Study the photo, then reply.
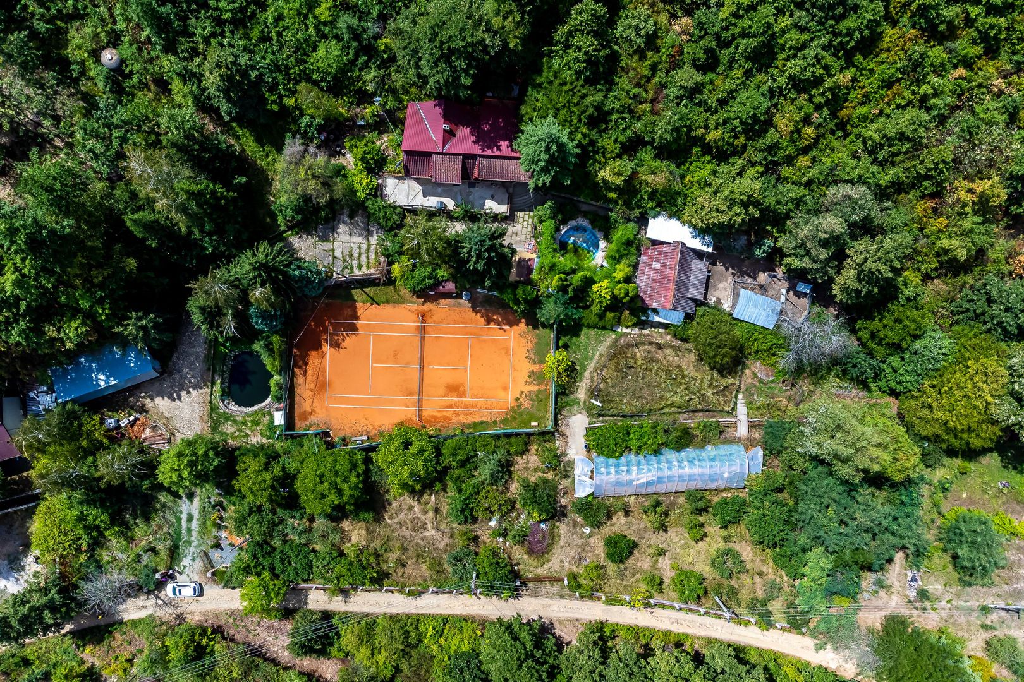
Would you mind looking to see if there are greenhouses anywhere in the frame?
Yes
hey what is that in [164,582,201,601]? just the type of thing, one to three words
car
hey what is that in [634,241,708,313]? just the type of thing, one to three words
barn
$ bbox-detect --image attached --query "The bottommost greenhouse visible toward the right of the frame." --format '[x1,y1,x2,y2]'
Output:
[575,443,762,497]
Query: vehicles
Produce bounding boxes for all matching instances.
[164,582,201,601]
[157,573,176,583]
